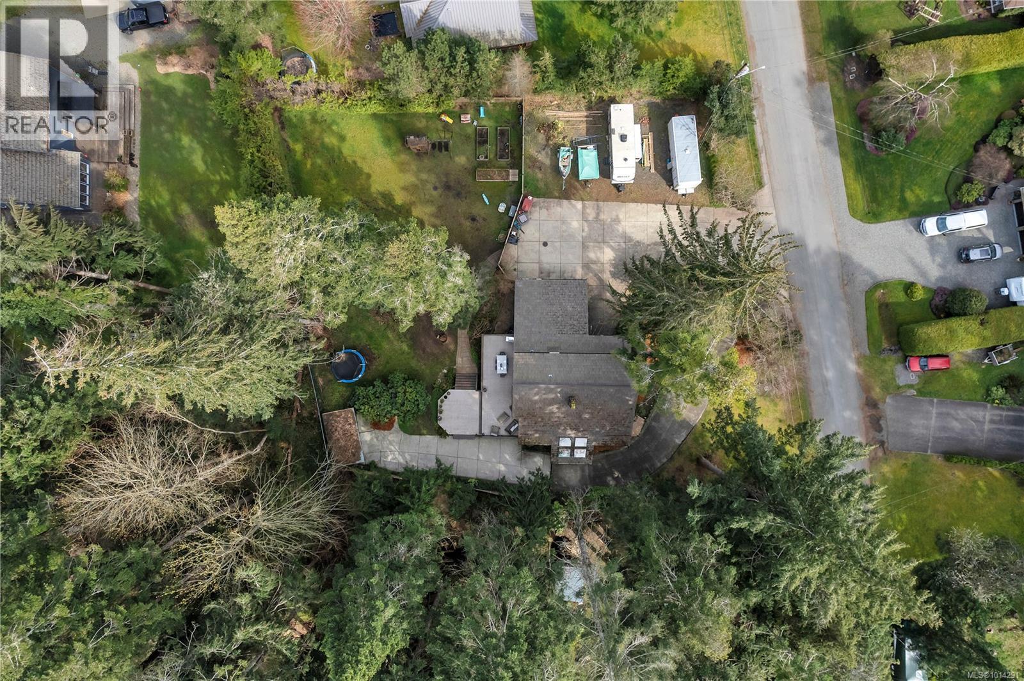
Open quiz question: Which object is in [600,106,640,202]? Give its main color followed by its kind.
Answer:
white trailer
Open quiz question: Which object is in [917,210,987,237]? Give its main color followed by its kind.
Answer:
white truck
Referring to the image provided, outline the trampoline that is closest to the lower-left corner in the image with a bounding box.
[327,349,365,385]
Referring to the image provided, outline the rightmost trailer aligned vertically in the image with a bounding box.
[666,116,702,204]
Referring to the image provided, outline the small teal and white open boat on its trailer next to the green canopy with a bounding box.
[555,143,576,188]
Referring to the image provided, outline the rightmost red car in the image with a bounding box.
[903,353,951,375]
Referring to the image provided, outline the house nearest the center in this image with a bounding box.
[511,277,644,465]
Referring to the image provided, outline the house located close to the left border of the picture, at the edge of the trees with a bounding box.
[0,51,101,217]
